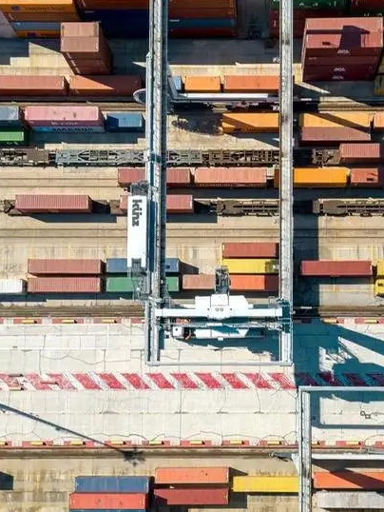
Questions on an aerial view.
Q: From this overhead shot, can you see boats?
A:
No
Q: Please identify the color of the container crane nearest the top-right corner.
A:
white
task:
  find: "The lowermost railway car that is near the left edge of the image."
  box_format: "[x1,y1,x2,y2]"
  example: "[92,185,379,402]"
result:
[2,199,109,214]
